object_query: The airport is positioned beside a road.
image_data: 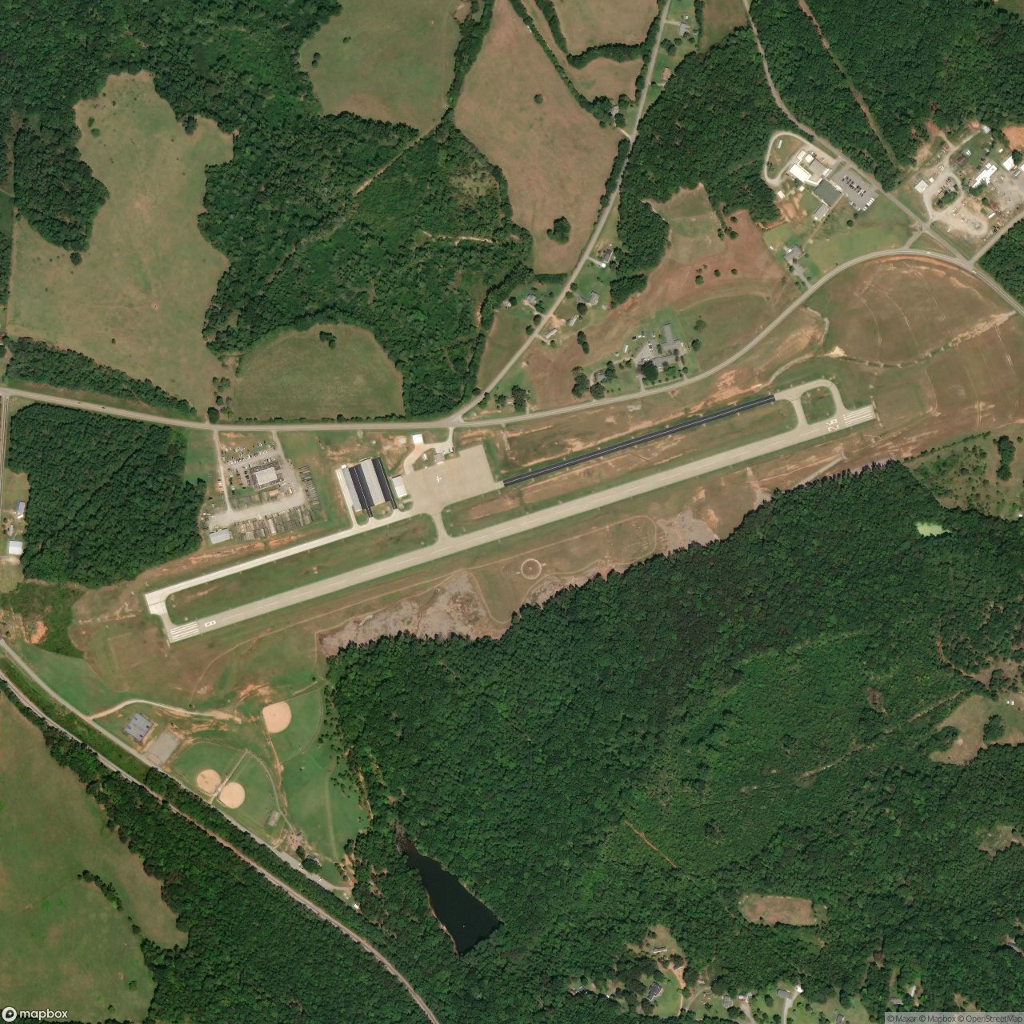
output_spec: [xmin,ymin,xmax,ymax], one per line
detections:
[145,379,875,643]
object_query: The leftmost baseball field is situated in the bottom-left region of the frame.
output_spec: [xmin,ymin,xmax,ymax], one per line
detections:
[171,741,239,797]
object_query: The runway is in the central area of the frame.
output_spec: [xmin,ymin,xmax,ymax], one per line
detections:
[167,404,875,643]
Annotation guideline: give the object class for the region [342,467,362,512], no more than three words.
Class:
hangar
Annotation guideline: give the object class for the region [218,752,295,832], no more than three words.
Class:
baseball field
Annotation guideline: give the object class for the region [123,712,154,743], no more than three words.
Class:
basketball court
